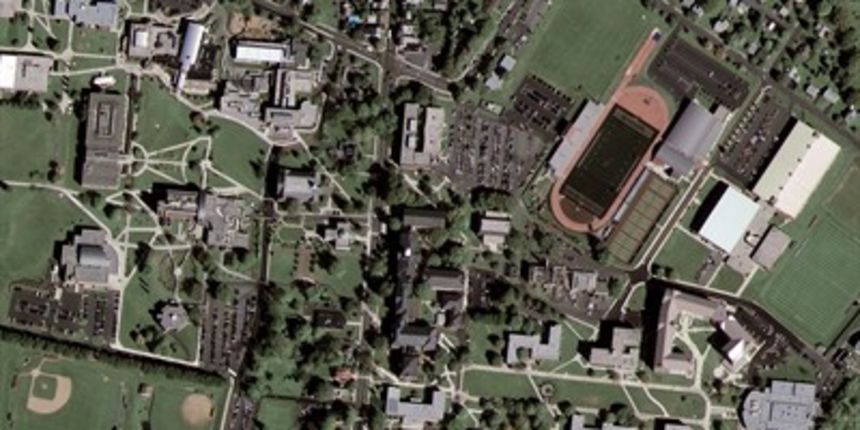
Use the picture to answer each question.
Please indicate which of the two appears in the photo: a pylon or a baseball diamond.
baseball diamond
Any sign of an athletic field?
Yes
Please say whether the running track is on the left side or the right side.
right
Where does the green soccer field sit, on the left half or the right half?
right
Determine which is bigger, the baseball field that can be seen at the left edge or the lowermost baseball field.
the baseball field that can be seen at the left edge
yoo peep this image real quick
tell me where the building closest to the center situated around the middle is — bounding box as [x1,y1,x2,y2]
[403,207,447,229]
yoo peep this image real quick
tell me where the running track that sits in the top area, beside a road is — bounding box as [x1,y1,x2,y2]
[547,29,669,233]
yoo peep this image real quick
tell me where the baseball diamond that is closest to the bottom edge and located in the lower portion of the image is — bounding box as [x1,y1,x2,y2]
[182,394,212,423]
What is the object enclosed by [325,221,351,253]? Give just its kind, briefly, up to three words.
house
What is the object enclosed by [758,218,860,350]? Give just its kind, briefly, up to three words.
soccer field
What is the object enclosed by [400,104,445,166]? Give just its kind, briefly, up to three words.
building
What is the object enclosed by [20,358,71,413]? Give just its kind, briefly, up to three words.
baseball field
